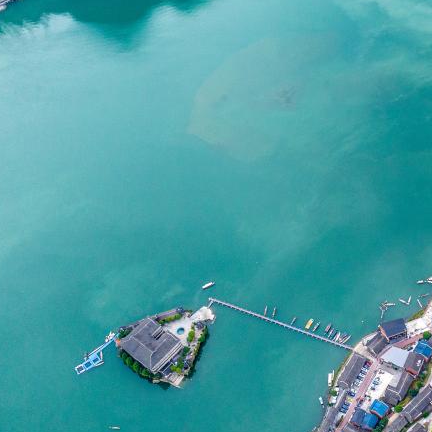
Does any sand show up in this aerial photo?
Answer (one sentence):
No, the picture contains no sand.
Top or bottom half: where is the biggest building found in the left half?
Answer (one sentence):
The biggest building found in the left half sits in the bottom half of the picture.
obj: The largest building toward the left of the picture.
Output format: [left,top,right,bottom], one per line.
[121,318,185,375]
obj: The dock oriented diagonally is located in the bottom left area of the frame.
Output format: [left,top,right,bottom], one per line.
[74,334,117,374]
